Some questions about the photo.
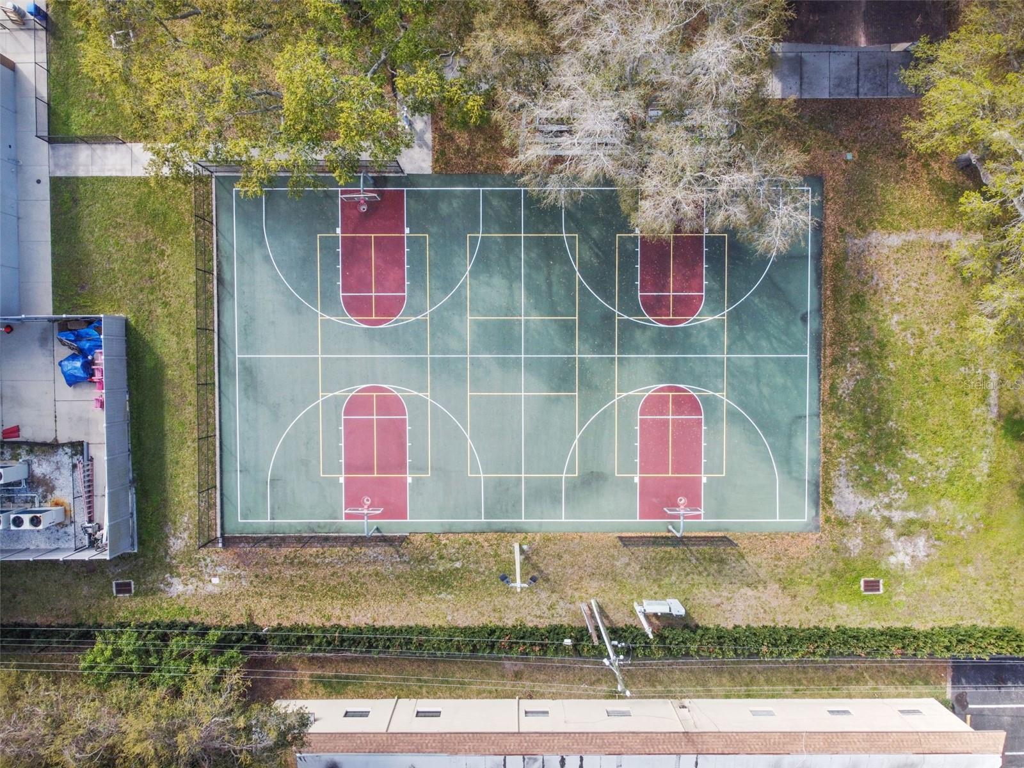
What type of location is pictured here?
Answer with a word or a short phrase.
sports ground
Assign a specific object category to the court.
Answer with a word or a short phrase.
basketball court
